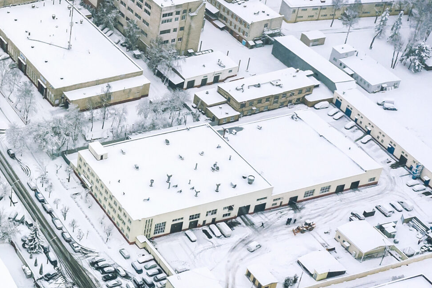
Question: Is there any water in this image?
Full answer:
No, no water is visible.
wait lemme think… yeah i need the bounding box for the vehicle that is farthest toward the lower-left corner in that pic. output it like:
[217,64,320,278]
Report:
[19,263,32,279]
